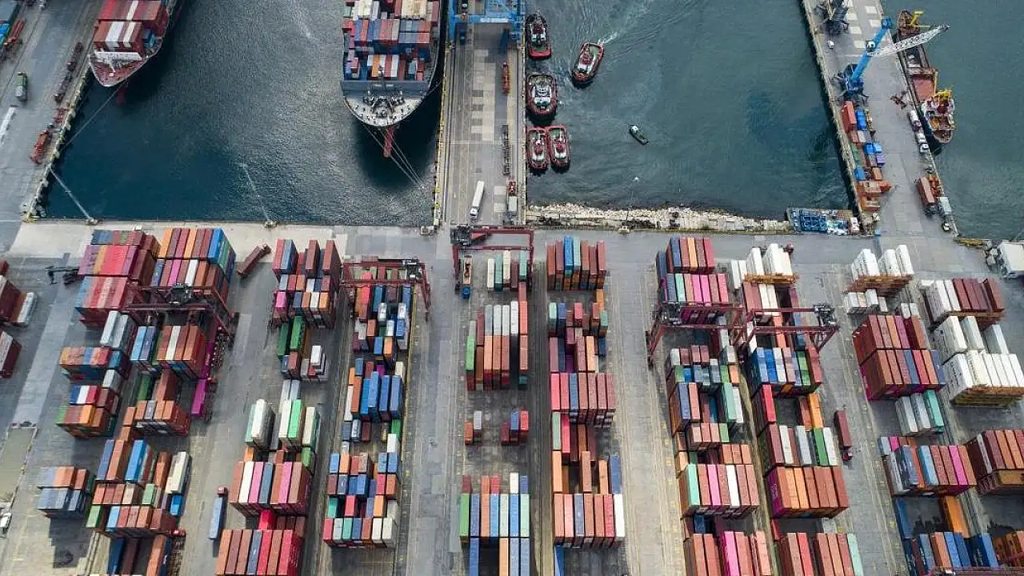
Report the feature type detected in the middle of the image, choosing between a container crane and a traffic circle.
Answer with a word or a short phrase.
container crane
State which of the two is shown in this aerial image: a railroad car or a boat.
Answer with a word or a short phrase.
boat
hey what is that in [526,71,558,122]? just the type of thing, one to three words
boat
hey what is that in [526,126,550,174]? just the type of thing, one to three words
boat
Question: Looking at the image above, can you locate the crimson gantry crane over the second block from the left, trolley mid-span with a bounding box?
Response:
[118,281,236,349]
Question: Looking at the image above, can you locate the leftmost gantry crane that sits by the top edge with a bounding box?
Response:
[445,0,520,47]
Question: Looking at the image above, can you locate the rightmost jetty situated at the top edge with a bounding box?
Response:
[800,0,956,226]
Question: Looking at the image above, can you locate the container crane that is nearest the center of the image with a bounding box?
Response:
[449,228,536,294]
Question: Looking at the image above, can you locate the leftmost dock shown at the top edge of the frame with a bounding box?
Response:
[0,0,88,222]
